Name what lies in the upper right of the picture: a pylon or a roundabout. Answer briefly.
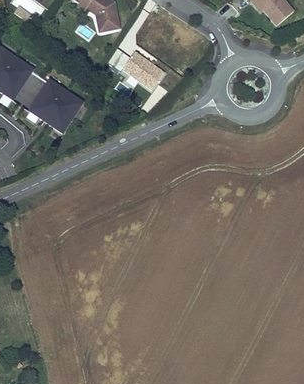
roundabout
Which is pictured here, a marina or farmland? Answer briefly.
farmland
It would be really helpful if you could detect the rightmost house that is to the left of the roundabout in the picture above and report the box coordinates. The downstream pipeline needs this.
[123,50,166,93]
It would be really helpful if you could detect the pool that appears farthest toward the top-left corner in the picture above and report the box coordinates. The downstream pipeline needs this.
[75,24,96,42]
